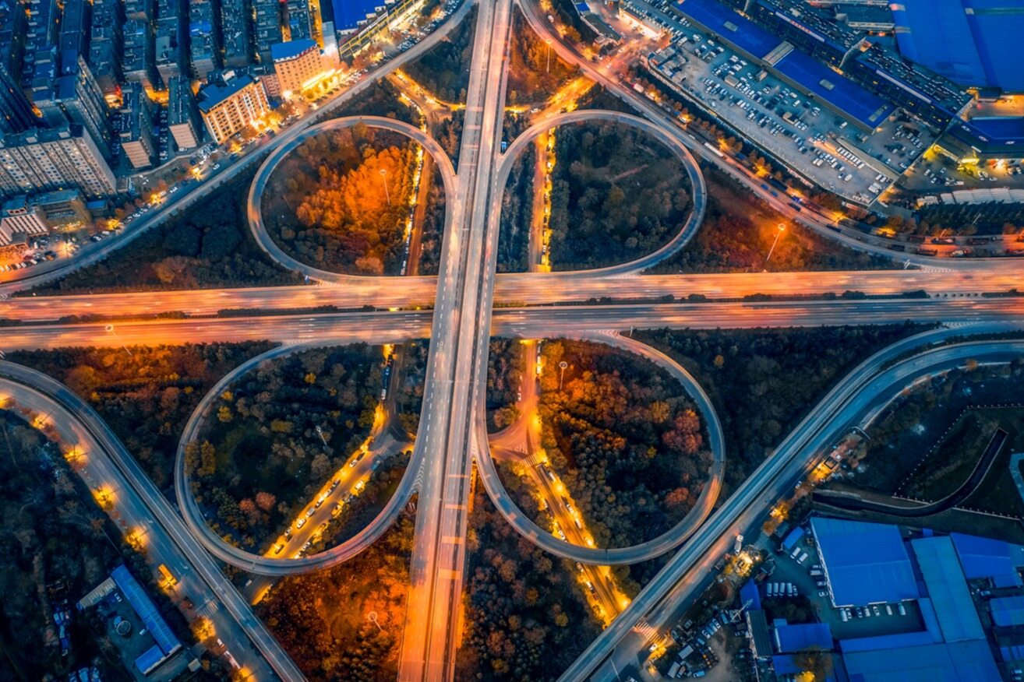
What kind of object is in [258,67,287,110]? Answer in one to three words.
building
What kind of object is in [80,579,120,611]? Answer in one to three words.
shed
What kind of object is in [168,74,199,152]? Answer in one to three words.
building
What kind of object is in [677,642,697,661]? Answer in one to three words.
vehicle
